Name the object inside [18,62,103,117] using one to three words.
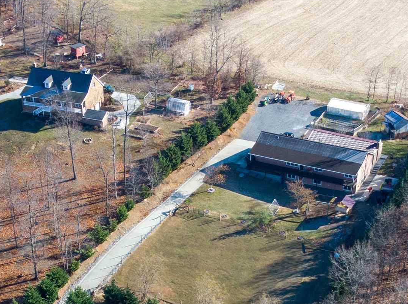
house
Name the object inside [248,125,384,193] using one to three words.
house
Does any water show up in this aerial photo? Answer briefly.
No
